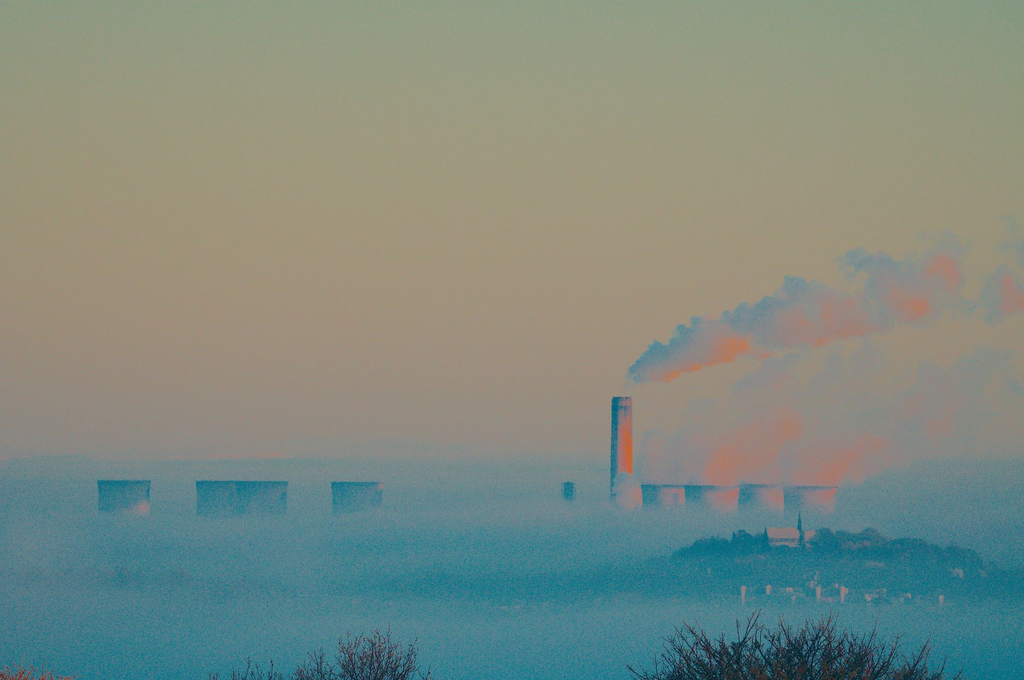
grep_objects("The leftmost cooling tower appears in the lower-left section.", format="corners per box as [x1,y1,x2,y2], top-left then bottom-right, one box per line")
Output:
[84,481,165,566]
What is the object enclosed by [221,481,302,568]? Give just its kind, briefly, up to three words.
cooling tower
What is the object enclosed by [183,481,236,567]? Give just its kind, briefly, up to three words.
cooling tower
